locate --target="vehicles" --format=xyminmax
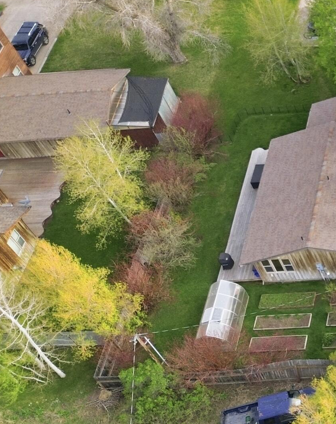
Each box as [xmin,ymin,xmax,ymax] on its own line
[221,388,318,424]
[9,23,49,68]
